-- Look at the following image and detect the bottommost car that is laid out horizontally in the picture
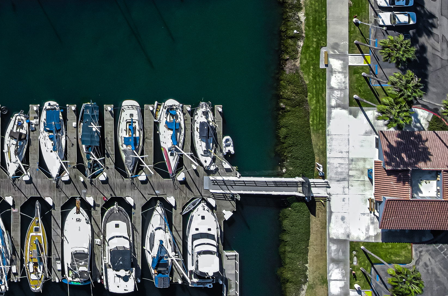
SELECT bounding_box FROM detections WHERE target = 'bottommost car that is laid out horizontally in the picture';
[376,11,416,26]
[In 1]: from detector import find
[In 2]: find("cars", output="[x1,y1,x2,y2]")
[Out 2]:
[375,0,413,8]
[376,11,416,26]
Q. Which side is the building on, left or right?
right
